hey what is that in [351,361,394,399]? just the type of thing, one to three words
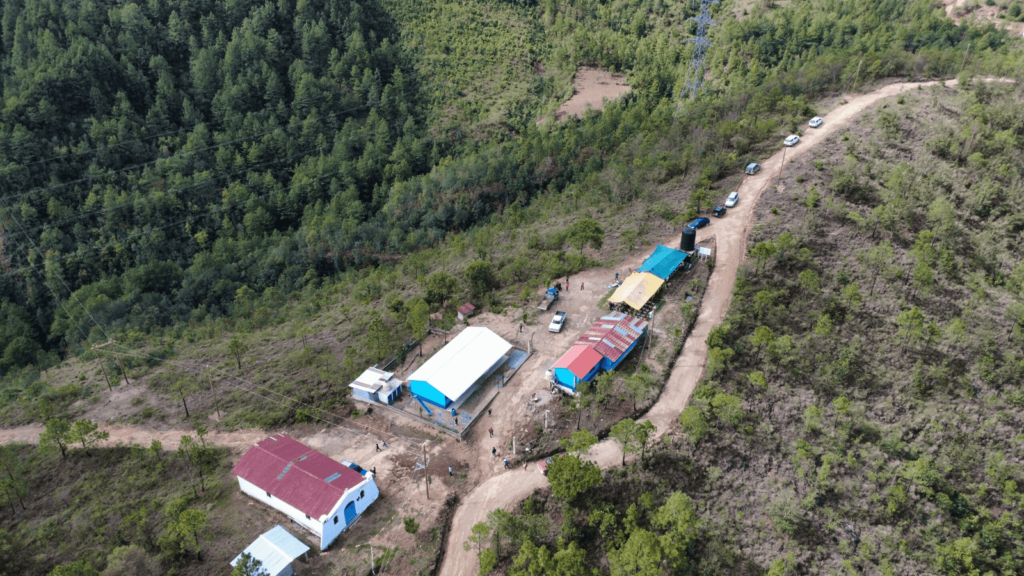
shed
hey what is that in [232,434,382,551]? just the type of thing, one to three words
building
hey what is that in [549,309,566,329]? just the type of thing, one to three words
vehicle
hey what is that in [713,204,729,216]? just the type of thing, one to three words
vehicle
